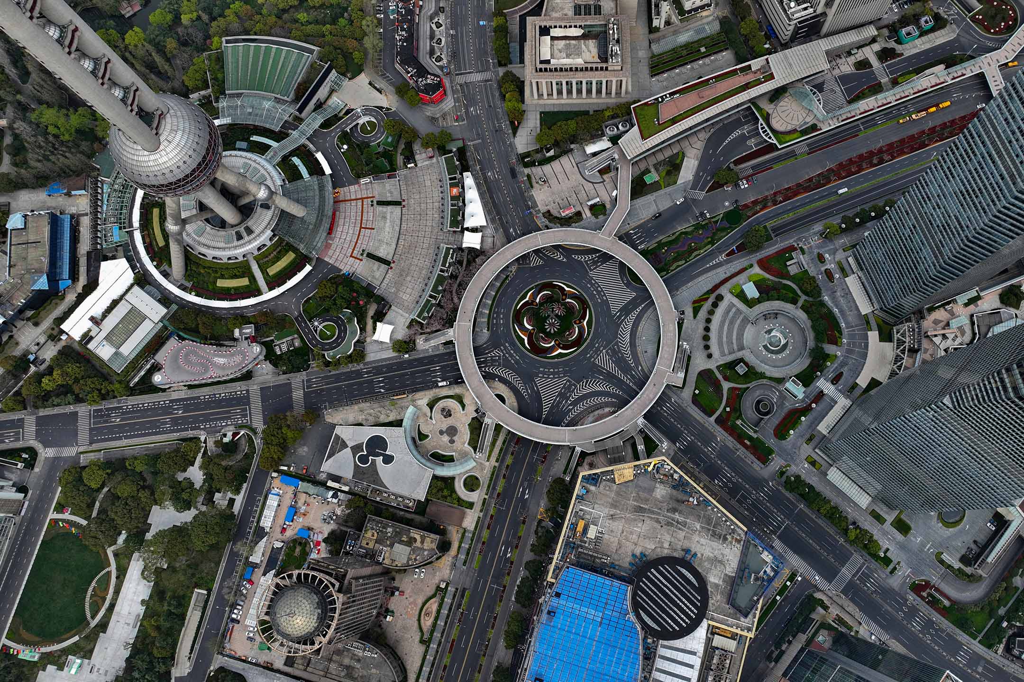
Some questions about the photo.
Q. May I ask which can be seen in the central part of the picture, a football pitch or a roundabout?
roundabout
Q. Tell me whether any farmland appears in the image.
No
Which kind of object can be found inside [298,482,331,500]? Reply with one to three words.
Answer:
tent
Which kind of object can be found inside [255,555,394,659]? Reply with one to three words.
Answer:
building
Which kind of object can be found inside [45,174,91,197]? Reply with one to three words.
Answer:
shed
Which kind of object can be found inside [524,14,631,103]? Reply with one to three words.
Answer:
building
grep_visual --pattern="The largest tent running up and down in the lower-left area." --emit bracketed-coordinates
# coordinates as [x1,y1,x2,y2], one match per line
[262,494,281,535]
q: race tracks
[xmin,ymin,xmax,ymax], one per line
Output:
[152,339,267,388]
